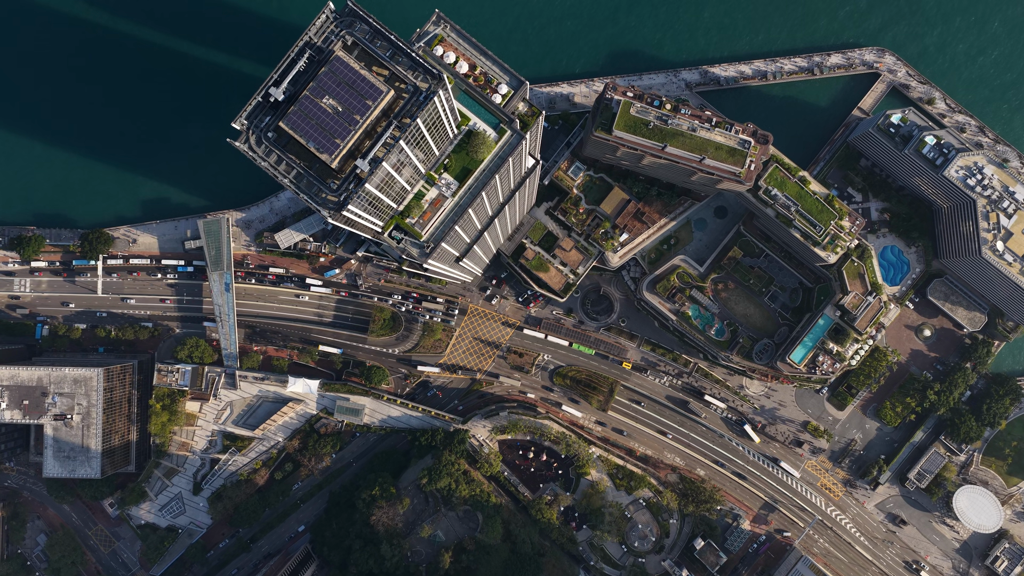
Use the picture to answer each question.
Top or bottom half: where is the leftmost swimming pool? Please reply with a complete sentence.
The top half of the photo is where the leftmost swimming pool is.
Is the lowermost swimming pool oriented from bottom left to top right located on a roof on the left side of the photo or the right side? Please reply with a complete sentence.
It is on the right.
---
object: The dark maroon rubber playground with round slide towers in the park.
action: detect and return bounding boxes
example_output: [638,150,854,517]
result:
[496,438,576,496]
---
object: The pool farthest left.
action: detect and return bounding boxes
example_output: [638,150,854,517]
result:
[449,82,505,133]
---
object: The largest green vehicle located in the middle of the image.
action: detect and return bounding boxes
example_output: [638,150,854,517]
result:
[571,343,597,355]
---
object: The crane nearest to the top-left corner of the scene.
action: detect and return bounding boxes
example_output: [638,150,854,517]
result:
[271,51,314,105]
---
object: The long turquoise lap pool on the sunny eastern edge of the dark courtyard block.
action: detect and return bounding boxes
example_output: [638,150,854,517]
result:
[784,311,837,367]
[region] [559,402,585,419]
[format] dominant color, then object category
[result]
white vehicle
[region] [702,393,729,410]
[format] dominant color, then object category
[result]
white vehicle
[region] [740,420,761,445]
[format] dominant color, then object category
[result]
white bus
